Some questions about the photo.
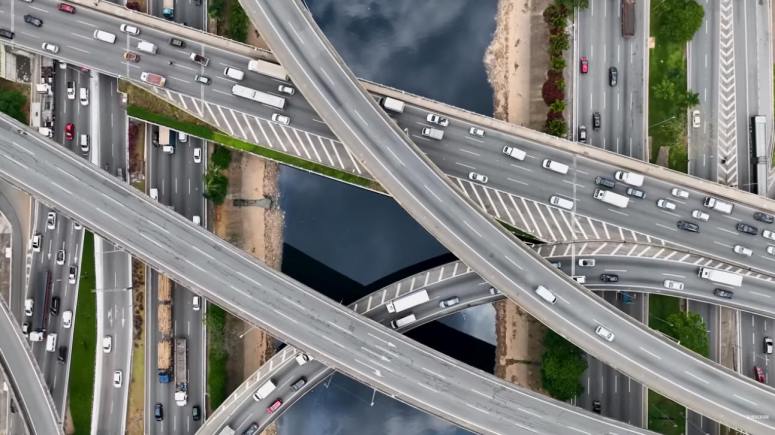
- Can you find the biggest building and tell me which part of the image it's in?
top left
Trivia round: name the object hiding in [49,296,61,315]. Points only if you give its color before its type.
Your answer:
black vehicle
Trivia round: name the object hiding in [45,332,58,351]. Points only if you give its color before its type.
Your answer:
white vehicle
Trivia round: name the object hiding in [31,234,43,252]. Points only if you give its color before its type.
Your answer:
white vehicle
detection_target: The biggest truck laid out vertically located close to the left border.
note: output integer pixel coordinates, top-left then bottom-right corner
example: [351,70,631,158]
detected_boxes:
[30,269,55,342]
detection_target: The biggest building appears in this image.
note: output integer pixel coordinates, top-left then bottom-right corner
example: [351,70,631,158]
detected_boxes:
[1,44,42,89]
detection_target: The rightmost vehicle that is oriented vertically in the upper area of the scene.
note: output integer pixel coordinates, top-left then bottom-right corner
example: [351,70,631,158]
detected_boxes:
[751,113,770,200]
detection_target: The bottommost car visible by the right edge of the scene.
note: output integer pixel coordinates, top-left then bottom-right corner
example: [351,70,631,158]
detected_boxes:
[753,365,765,382]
